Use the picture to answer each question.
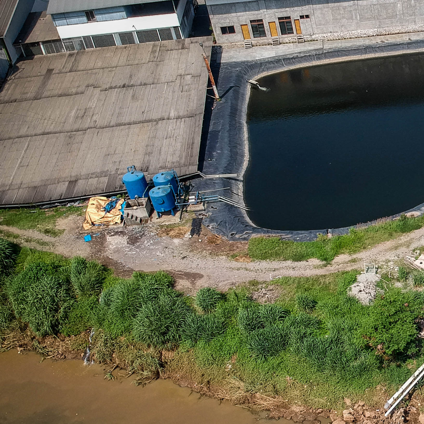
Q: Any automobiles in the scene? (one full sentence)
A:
No, the photo shows no automobile.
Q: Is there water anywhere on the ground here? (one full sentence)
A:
Yes, there is water in the image.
